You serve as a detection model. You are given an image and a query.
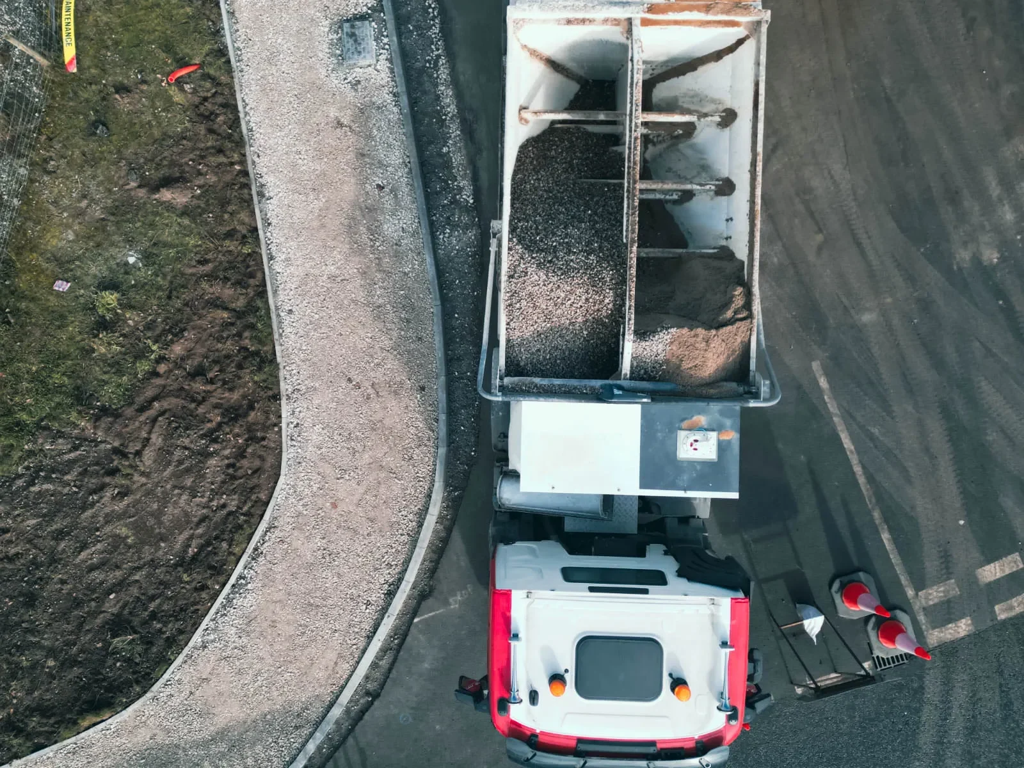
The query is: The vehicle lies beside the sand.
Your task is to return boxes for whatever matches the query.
[456,0,782,768]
